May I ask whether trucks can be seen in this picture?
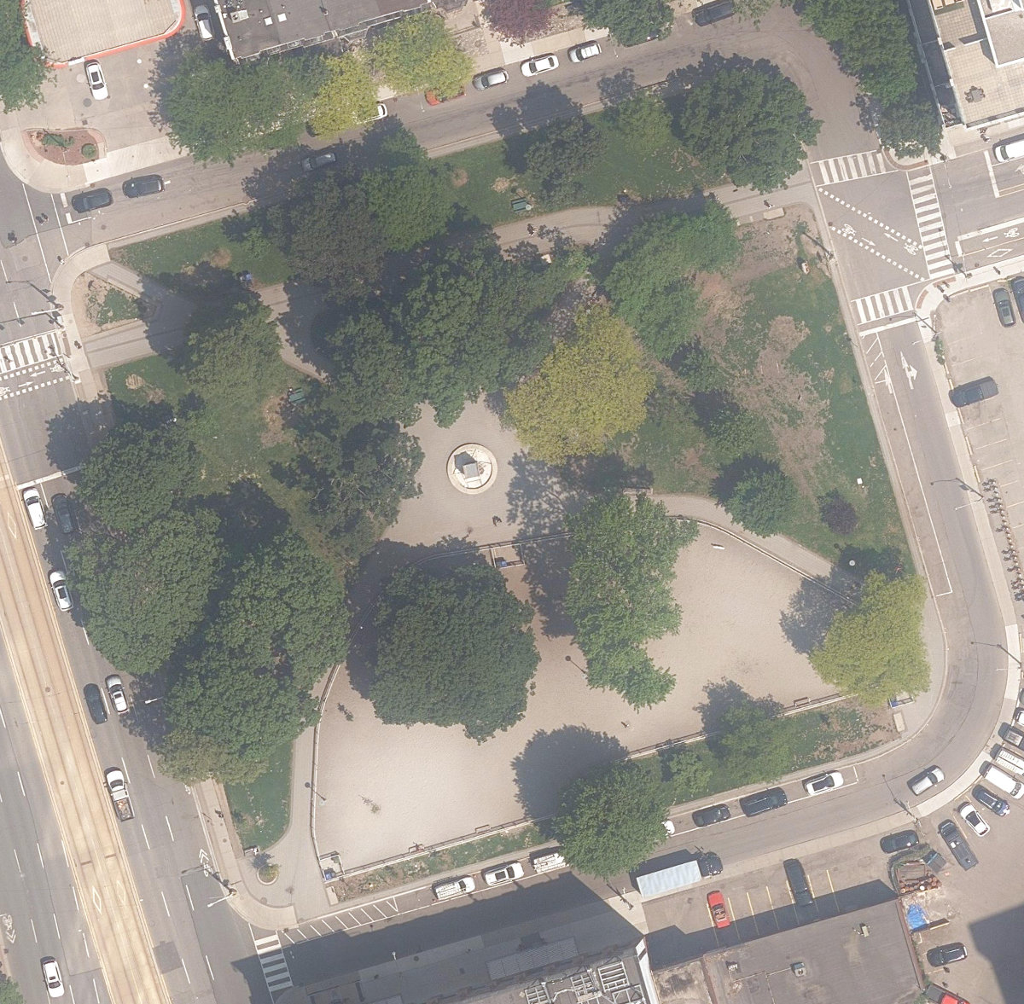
Yes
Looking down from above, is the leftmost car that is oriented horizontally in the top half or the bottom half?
top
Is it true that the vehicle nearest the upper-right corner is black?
No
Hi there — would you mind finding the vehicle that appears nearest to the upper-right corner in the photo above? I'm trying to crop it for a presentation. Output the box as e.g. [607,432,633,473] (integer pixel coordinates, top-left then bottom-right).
[993,138,1024,161]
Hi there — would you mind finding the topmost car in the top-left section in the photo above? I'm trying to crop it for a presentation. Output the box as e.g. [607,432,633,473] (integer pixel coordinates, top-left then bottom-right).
[193,4,215,41]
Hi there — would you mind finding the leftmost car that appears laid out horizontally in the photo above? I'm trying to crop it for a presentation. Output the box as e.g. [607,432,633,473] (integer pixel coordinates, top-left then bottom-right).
[71,188,114,212]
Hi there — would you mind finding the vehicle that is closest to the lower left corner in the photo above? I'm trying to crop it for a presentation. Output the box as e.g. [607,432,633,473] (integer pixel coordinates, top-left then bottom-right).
[40,956,64,998]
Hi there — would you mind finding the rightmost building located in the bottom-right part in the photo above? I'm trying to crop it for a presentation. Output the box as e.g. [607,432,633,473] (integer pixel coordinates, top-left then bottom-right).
[702,895,928,1004]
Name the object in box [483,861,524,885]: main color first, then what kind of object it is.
white car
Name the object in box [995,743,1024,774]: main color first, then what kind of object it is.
white van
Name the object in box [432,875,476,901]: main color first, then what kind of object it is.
white vehicle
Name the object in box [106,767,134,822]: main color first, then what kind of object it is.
white truck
